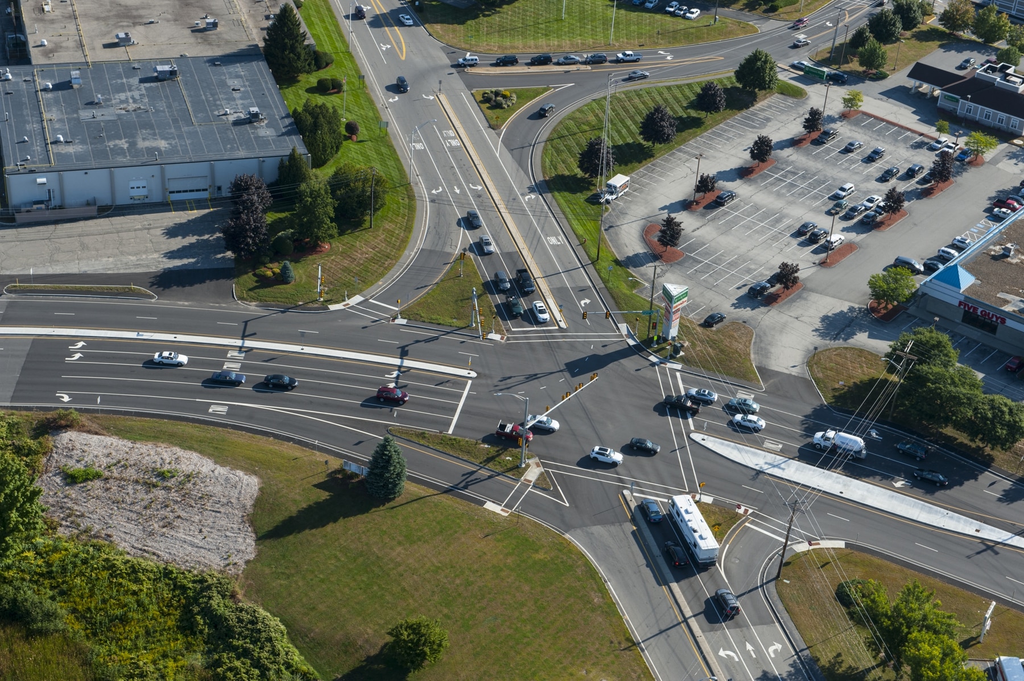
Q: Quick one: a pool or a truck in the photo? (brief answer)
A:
truck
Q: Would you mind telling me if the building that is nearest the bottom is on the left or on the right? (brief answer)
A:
right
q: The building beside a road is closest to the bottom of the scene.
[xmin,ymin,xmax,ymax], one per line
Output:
[906,207,1024,357]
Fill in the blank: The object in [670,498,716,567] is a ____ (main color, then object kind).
white camper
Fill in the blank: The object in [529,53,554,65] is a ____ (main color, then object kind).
black vehicle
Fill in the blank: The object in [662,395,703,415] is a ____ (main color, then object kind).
black vehicle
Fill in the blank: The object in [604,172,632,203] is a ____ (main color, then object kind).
white truck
